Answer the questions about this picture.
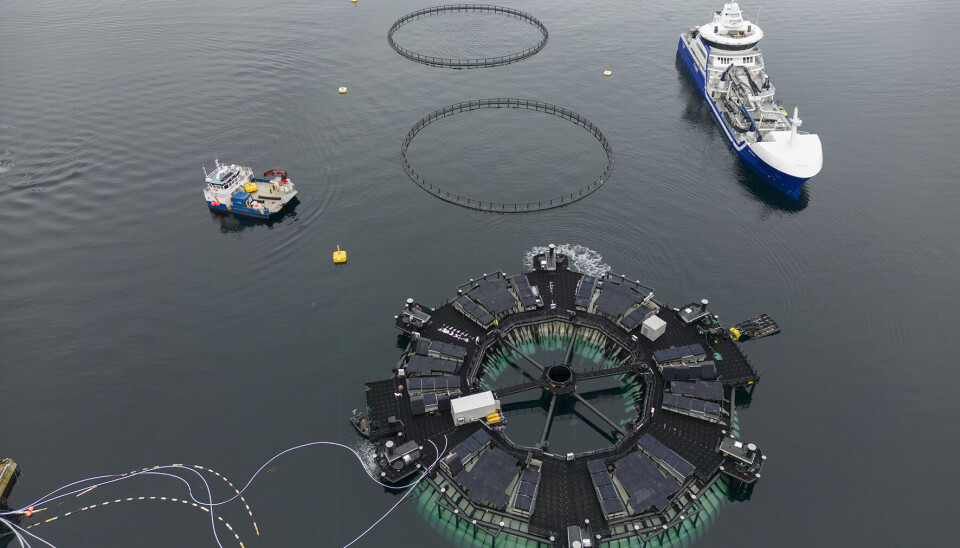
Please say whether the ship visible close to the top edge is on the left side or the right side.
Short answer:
right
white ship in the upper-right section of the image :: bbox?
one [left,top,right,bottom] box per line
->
[677,0,820,209]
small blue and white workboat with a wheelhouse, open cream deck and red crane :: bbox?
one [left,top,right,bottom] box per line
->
[203,154,297,220]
